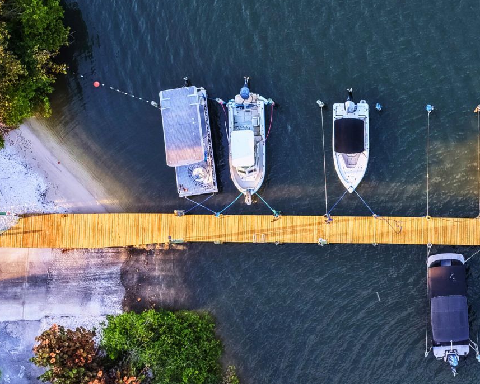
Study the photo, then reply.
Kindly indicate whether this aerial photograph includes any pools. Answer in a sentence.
No, there appears to be no pool in this shot.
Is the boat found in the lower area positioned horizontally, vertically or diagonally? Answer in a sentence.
What the image shows is the boat found in the lower area lying vertically.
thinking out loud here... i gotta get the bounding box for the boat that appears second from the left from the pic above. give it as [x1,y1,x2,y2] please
[228,73,266,205]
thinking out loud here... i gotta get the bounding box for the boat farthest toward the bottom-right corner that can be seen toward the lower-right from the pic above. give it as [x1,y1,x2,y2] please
[429,253,469,379]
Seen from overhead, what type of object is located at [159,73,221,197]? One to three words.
boat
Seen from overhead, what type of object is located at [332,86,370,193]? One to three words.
boat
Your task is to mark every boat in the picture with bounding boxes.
[228,73,266,205]
[429,253,469,379]
[332,86,370,193]
[159,73,221,197]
